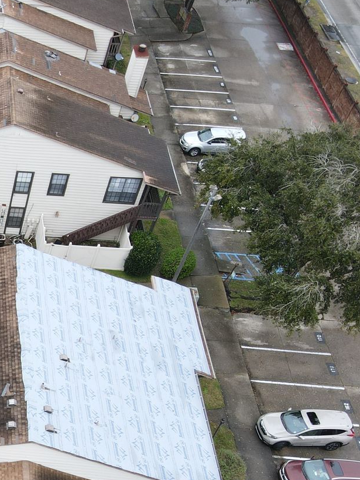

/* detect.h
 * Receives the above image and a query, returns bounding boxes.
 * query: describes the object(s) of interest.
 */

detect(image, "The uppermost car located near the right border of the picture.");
[260,405,356,450]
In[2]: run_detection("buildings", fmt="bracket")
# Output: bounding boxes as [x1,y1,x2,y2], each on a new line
[0,244,225,480]
[0,0,180,252]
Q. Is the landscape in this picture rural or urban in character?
urban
